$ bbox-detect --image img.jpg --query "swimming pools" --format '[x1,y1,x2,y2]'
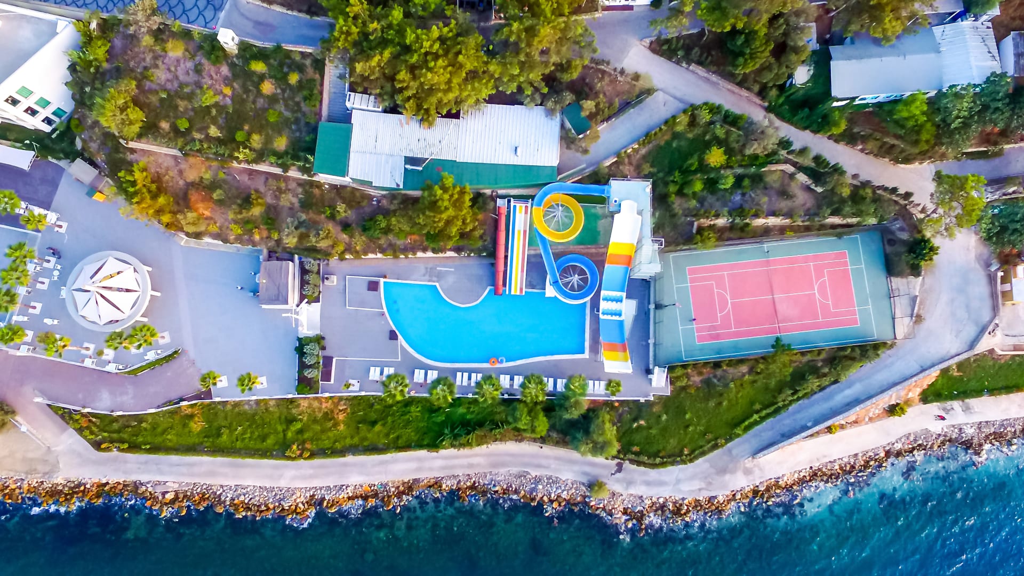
[378,277,593,370]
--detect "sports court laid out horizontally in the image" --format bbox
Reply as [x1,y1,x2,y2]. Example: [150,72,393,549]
[657,231,894,366]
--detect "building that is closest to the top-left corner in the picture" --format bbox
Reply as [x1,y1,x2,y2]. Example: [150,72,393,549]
[0,3,101,135]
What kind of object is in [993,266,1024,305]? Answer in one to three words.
house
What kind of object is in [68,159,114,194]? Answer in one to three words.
shed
